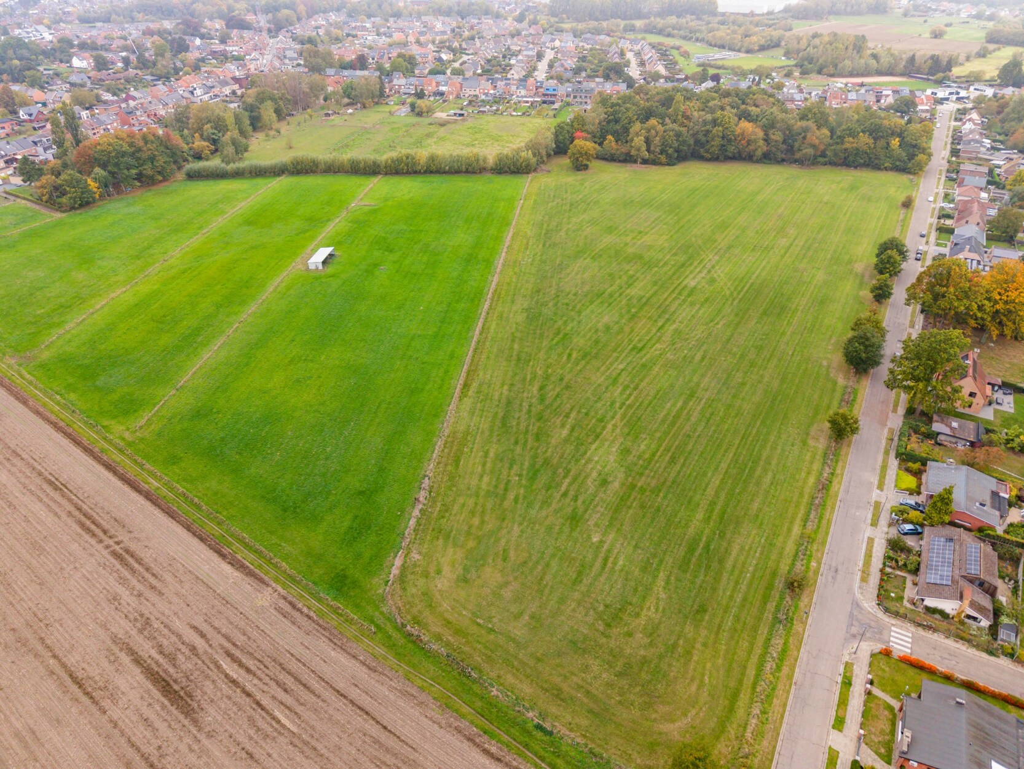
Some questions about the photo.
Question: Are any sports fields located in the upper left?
No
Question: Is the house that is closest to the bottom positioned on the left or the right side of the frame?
right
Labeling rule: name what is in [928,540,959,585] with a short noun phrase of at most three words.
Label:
solar array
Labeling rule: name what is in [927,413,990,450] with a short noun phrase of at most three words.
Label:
barn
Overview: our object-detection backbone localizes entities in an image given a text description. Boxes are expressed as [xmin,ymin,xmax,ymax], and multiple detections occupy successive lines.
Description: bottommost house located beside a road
[895,685,1019,769]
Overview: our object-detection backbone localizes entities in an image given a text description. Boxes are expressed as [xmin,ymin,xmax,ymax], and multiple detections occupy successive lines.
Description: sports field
[621,34,786,75]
